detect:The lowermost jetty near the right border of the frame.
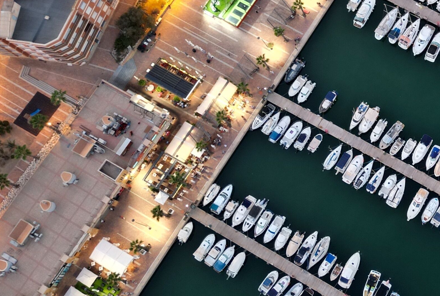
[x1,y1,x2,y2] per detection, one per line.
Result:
[267,91,440,195]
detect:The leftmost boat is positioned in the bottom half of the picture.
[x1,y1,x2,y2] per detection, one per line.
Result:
[176,221,198,245]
